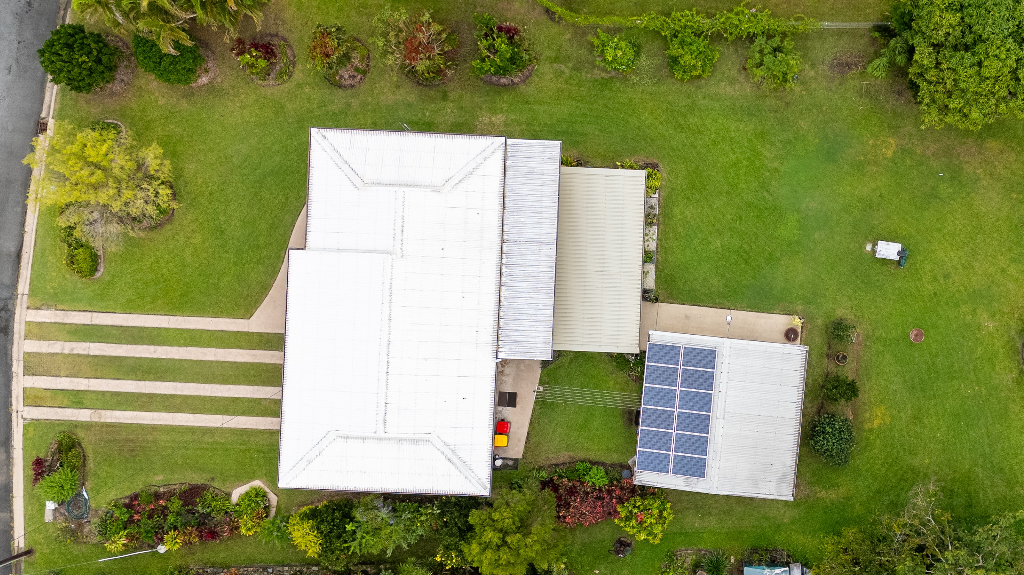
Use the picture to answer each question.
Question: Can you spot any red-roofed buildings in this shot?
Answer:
No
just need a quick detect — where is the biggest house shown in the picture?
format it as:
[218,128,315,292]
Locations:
[276,128,509,498]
